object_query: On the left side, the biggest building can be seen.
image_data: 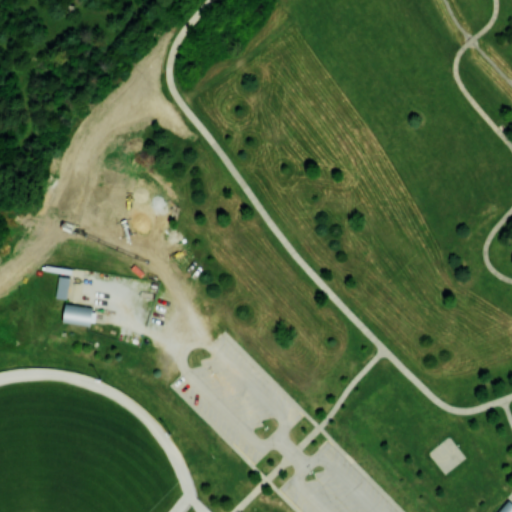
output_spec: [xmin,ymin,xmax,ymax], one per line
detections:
[62,304,96,328]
